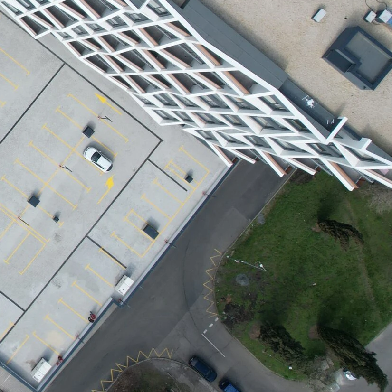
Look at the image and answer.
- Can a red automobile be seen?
No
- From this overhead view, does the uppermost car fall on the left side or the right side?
left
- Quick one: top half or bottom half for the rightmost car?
bottom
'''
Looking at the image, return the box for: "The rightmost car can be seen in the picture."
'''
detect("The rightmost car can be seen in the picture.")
[343,367,373,391]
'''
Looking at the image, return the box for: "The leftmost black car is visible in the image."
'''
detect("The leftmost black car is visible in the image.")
[189,355,221,387]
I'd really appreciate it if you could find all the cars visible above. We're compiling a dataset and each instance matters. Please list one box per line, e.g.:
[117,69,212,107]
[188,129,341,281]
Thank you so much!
[83,145,118,176]
[189,355,221,387]
[217,377,246,392]
[343,367,373,391]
